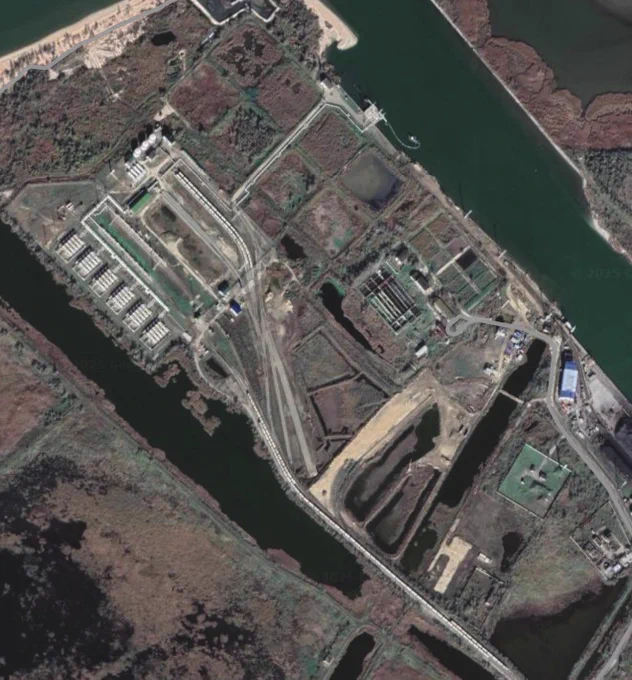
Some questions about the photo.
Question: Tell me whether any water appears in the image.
Yes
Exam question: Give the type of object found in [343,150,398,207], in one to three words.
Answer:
pond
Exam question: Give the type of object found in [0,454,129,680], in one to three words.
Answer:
pond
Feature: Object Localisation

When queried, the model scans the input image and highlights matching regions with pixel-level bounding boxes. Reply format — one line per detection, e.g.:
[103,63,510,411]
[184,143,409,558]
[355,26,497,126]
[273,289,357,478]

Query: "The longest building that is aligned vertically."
[558,361,577,401]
